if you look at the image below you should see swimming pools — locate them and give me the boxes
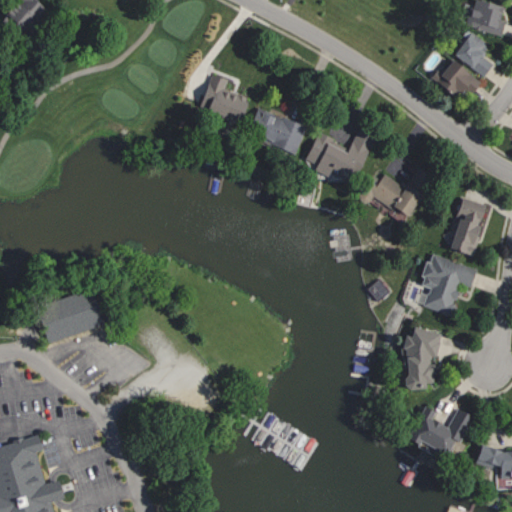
[409,286,419,300]
[424,51,442,71]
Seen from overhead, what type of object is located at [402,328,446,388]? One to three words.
house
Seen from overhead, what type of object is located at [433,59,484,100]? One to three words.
house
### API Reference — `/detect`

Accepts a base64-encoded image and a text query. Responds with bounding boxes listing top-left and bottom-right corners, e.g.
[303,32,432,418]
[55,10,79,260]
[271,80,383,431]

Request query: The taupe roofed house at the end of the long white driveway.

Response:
[197,74,250,118]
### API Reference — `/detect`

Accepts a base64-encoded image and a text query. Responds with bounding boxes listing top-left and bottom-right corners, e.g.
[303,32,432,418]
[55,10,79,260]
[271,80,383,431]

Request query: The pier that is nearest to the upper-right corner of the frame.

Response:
[337,233,362,262]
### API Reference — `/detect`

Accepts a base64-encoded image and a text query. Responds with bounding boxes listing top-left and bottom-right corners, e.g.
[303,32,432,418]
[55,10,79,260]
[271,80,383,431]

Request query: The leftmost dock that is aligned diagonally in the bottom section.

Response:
[242,408,318,468]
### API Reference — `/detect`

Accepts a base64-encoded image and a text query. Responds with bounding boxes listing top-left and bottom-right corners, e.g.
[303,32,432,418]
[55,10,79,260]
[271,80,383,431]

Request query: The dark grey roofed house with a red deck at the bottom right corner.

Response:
[477,446,512,482]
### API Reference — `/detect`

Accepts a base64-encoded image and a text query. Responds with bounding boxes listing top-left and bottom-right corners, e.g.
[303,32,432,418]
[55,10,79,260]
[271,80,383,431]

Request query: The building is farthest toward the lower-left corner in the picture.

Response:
[0,437,65,512]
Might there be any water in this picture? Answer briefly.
Yes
